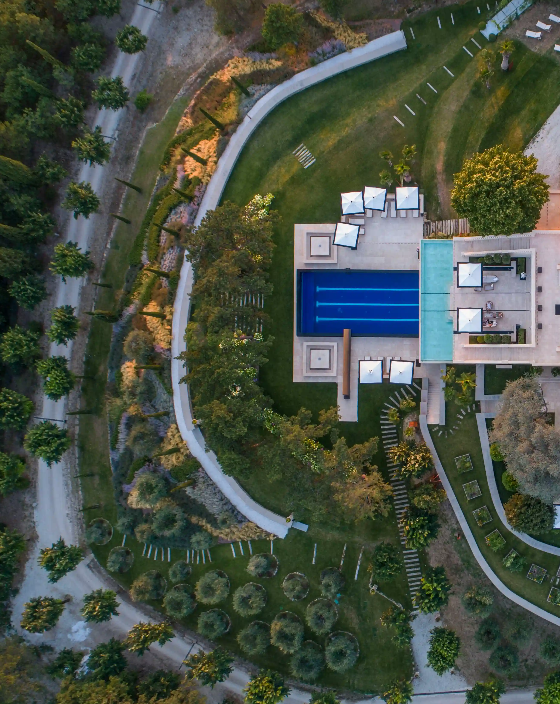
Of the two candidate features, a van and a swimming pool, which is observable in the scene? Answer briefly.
swimming pool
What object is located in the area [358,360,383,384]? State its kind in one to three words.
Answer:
umbrella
